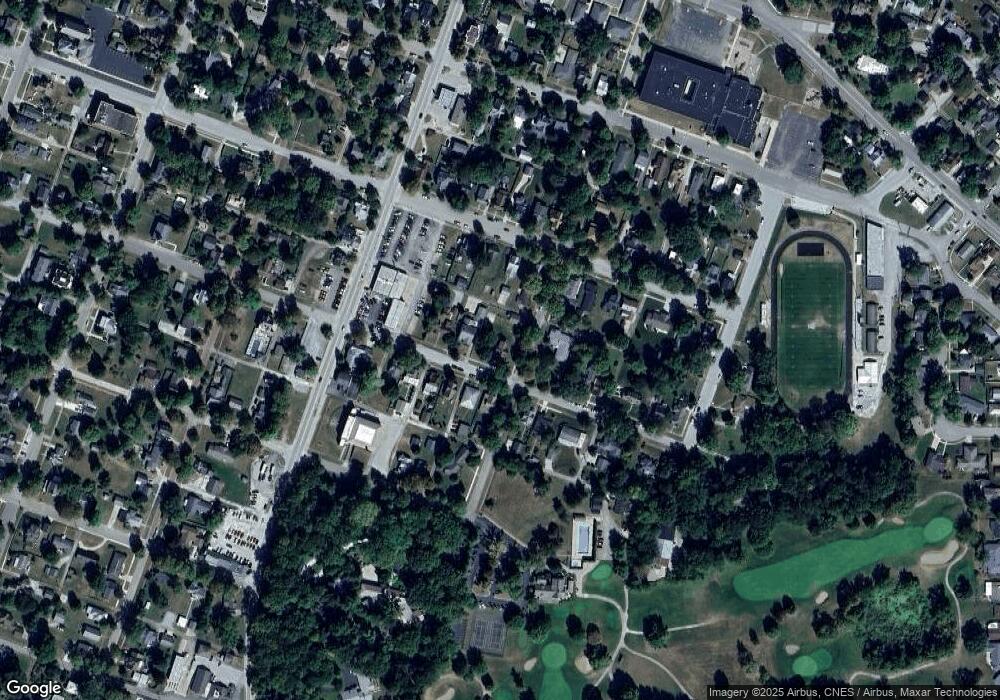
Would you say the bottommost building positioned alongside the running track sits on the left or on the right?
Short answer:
right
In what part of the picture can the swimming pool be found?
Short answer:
bottom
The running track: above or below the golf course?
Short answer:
above it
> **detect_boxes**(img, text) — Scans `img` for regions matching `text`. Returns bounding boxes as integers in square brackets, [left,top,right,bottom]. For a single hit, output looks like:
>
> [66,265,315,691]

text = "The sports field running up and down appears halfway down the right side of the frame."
[778,261,848,400]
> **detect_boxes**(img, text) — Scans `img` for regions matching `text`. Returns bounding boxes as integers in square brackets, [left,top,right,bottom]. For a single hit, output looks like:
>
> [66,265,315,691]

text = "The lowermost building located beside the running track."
[858,361,878,383]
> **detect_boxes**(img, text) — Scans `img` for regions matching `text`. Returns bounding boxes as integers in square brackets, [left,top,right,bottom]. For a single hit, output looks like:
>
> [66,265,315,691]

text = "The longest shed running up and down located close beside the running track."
[867,222,884,276]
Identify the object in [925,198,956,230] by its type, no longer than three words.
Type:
barn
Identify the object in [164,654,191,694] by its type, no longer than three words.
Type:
building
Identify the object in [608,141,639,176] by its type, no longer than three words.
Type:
house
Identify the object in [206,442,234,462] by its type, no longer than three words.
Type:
house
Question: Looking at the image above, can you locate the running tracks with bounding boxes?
[771,229,853,413]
